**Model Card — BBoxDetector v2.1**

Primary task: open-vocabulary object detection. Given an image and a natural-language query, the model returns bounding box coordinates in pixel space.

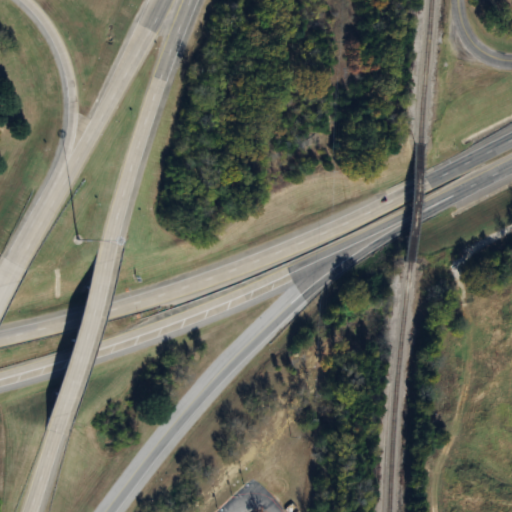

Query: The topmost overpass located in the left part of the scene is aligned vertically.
[0,258,26,324]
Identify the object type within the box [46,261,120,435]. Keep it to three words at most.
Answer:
overpass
